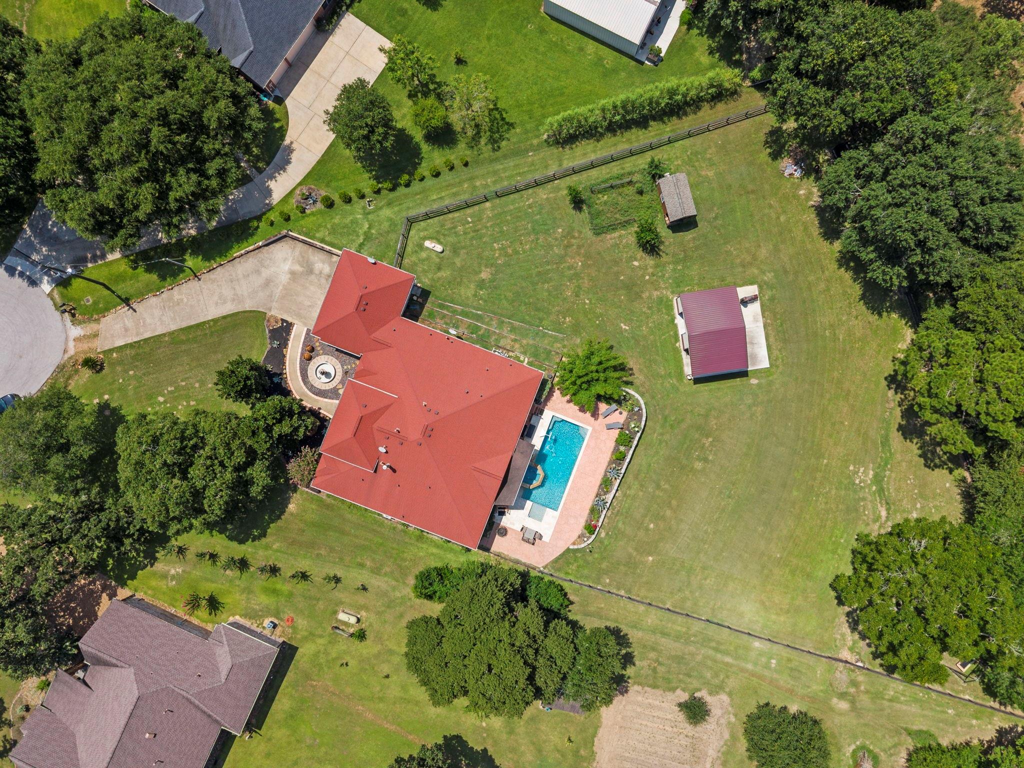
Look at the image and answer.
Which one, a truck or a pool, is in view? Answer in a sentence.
It is a pool that can be seen here.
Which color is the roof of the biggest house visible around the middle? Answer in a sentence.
The color of the roof on the biggest house visible around the middle is red.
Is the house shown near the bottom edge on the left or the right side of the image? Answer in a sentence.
The house shown near the bottom edge sits on the left side.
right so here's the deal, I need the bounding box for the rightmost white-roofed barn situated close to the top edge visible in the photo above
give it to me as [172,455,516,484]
[546,0,661,57]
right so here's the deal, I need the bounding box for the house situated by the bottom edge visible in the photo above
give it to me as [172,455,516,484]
[5,597,282,768]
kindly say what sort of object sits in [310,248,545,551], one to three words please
house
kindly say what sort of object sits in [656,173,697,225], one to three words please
shed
